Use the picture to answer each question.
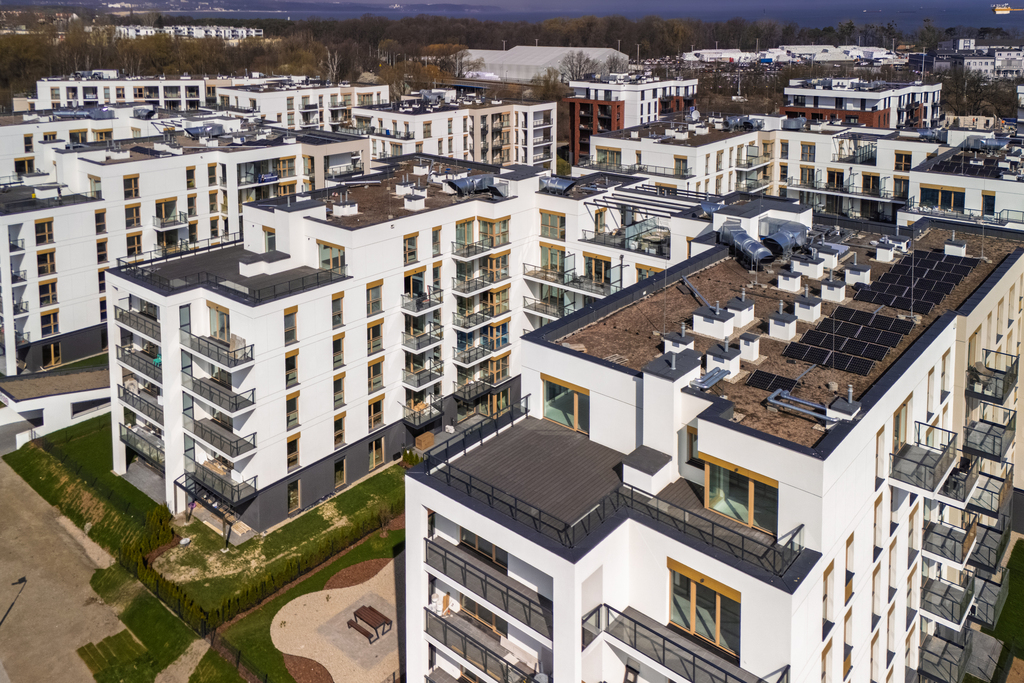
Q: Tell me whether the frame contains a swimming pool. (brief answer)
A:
No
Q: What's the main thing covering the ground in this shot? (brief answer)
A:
buildings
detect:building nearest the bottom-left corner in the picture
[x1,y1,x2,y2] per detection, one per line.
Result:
[0,370,113,433]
